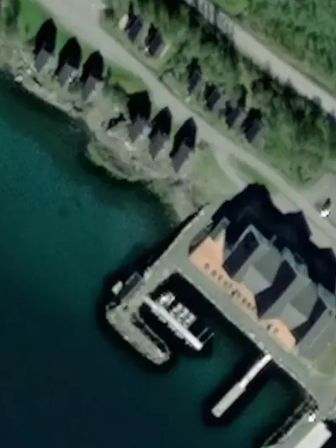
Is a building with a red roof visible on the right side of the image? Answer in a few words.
No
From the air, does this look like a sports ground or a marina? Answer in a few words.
marina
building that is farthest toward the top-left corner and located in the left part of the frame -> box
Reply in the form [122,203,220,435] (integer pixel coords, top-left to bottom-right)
[31,51,56,77]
